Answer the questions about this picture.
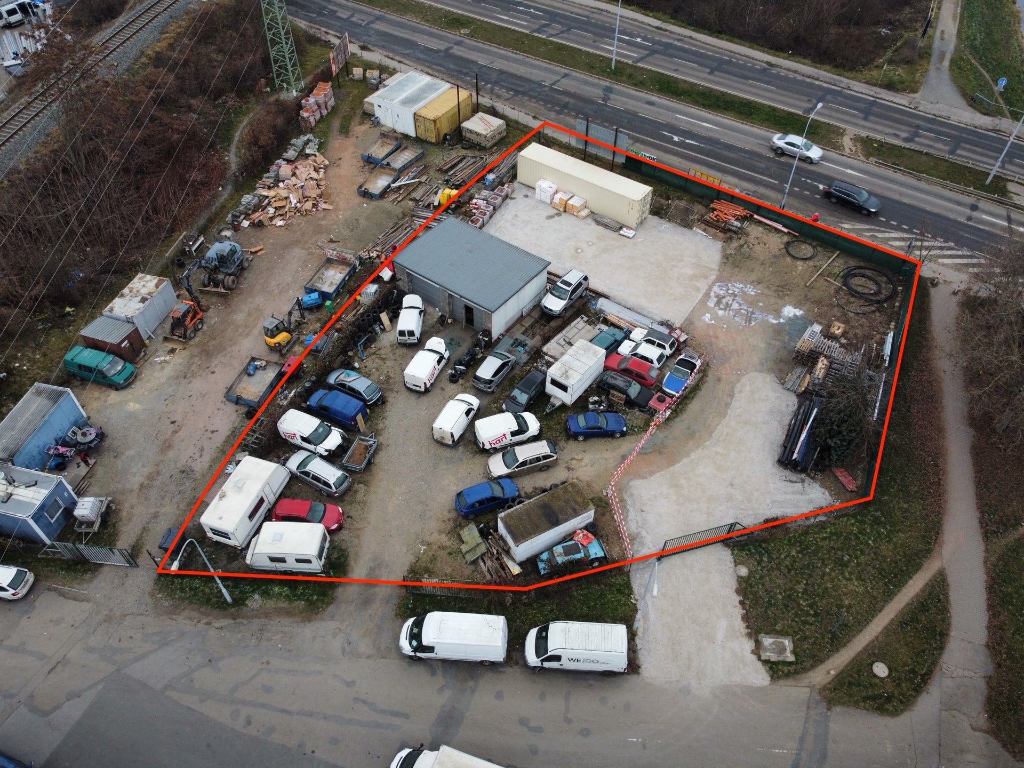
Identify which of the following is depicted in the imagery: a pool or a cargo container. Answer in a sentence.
I can see a cargo container in this picture.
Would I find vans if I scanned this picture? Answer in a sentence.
Yes, there's a van here.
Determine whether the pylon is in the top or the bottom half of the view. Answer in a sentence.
The top half of the photo is where the pylon is.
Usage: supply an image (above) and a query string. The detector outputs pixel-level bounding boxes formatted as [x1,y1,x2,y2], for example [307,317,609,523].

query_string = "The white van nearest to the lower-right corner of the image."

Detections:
[521,620,630,678]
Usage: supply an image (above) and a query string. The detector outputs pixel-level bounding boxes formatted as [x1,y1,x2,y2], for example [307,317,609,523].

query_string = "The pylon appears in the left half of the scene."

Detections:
[257,0,305,97]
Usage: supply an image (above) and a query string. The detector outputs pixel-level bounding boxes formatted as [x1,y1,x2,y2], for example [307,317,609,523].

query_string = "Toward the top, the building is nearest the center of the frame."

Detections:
[384,209,555,340]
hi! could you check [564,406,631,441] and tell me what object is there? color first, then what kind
blue car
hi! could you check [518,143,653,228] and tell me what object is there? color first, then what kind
white shipping container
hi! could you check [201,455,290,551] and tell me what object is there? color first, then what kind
white camper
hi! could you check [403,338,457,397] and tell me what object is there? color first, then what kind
white van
